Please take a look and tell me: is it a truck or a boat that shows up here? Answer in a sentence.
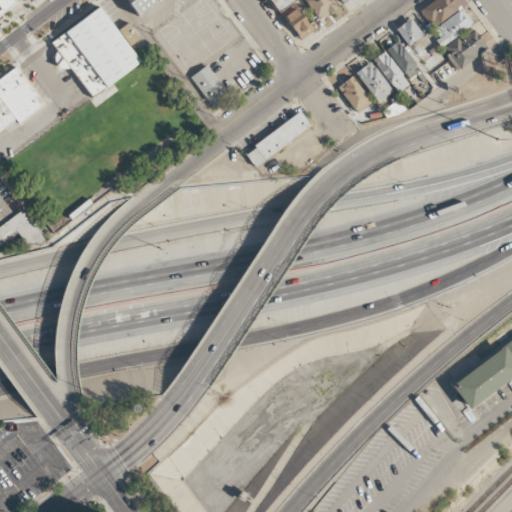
I can see a truck in this picture.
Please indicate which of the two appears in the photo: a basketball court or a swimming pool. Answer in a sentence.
There is a basketball court in the scene.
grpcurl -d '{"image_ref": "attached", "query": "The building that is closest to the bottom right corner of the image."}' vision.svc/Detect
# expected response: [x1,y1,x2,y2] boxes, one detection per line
[456,344,512,409]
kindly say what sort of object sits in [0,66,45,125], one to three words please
building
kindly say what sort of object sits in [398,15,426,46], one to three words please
house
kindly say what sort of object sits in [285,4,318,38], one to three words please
house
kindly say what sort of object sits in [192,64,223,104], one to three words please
building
